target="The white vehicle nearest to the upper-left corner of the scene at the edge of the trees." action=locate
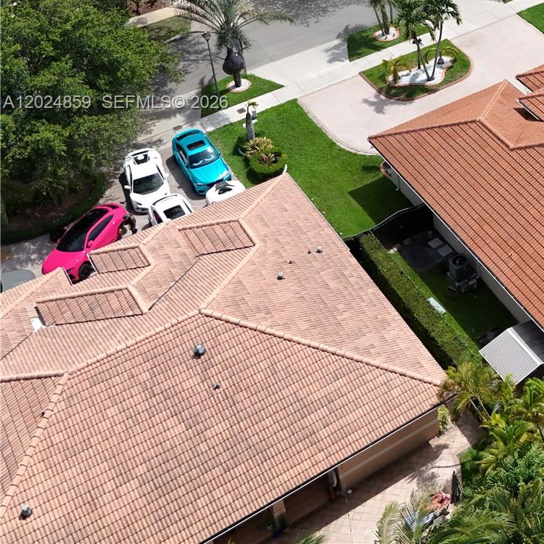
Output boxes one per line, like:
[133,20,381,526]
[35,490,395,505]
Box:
[125,148,172,212]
